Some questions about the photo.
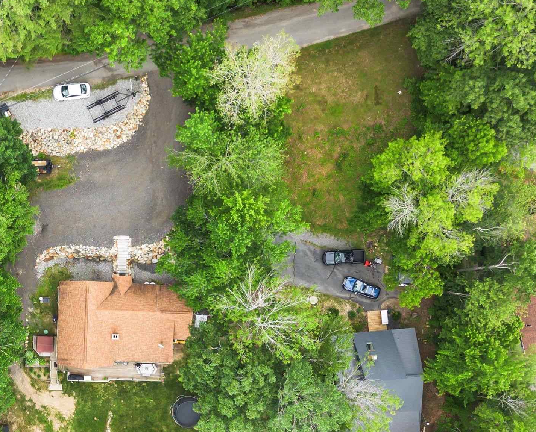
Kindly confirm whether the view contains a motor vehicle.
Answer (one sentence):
Yes, the picture does show a motor vehicle.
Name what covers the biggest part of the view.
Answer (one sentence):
The largest share of the image is taken up by trees.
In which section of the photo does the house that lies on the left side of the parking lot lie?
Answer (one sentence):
The house that lies on the left side of the parking lot is located in the bottom left region of the scene.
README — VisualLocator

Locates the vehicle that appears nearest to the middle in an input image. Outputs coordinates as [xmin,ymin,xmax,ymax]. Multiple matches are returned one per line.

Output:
[323,247,369,265]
